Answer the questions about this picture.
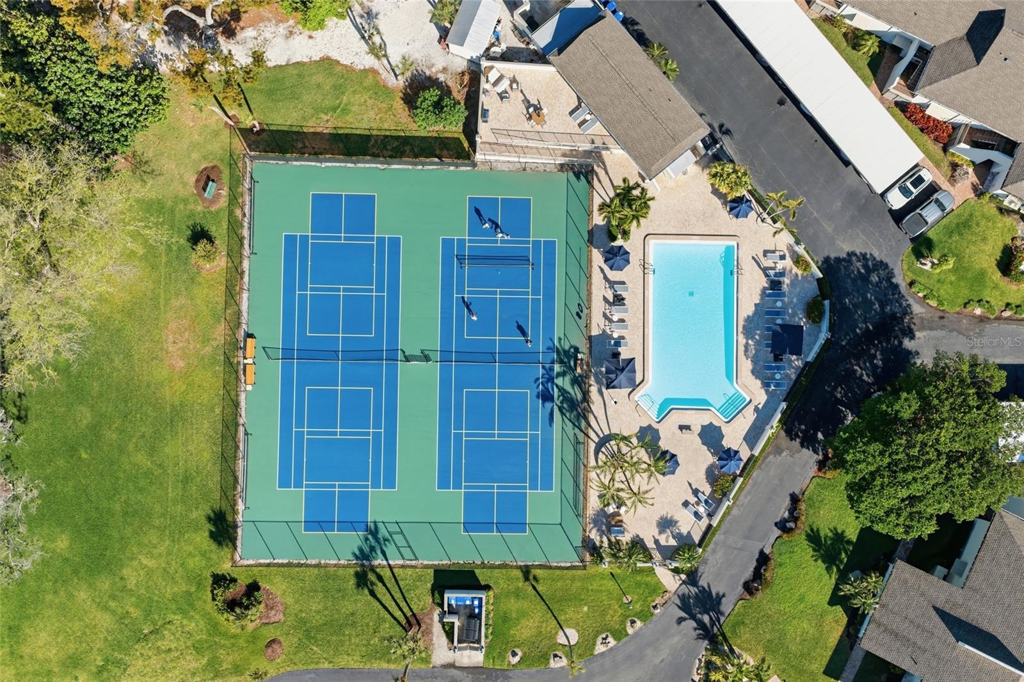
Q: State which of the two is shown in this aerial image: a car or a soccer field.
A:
car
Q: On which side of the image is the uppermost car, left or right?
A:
right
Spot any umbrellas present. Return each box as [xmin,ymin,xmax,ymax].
[716,447,742,474]
[603,245,630,271]
[771,324,801,364]
[728,194,753,220]
[606,349,634,387]
[652,448,679,476]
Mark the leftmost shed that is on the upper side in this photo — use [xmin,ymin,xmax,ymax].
[446,0,501,65]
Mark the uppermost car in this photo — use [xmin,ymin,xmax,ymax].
[883,166,931,210]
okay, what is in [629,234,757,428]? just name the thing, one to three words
swimming pool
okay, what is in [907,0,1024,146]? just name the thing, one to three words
house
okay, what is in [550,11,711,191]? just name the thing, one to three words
building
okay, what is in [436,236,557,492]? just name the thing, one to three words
tennis court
